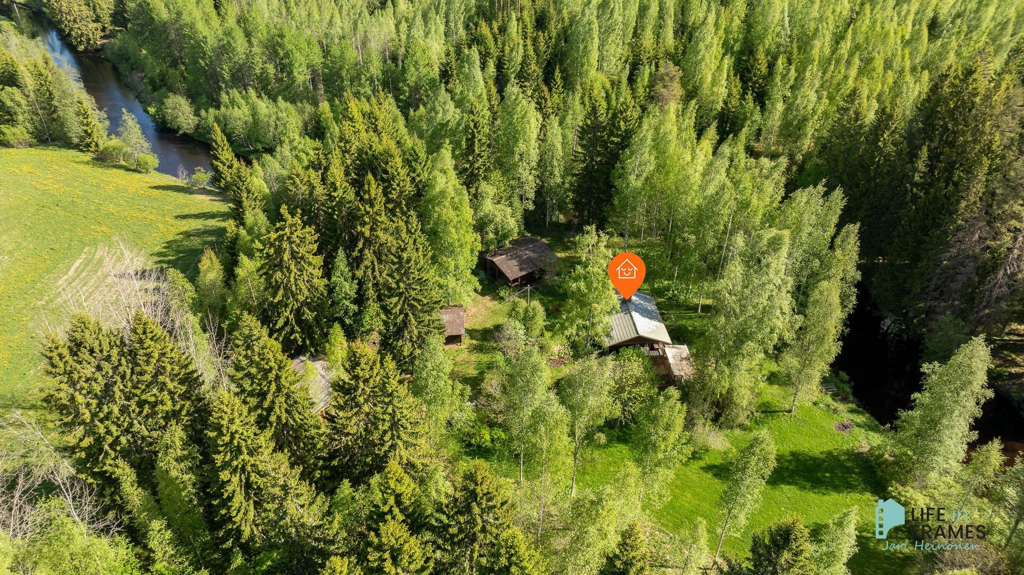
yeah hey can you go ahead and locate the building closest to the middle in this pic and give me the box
[480,234,557,293]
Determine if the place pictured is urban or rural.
rural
